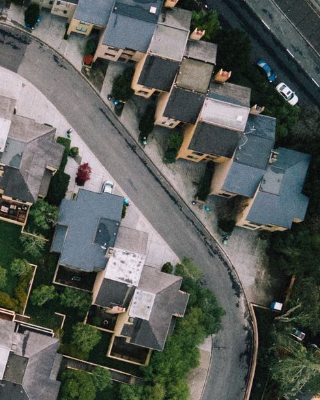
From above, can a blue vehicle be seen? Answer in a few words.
Yes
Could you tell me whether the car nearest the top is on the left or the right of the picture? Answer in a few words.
right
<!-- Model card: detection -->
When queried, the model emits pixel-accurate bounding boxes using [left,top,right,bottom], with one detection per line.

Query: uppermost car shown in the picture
[256,57,277,82]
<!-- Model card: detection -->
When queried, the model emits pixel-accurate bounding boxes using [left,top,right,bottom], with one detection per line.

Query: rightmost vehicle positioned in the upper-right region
[275,80,299,108]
